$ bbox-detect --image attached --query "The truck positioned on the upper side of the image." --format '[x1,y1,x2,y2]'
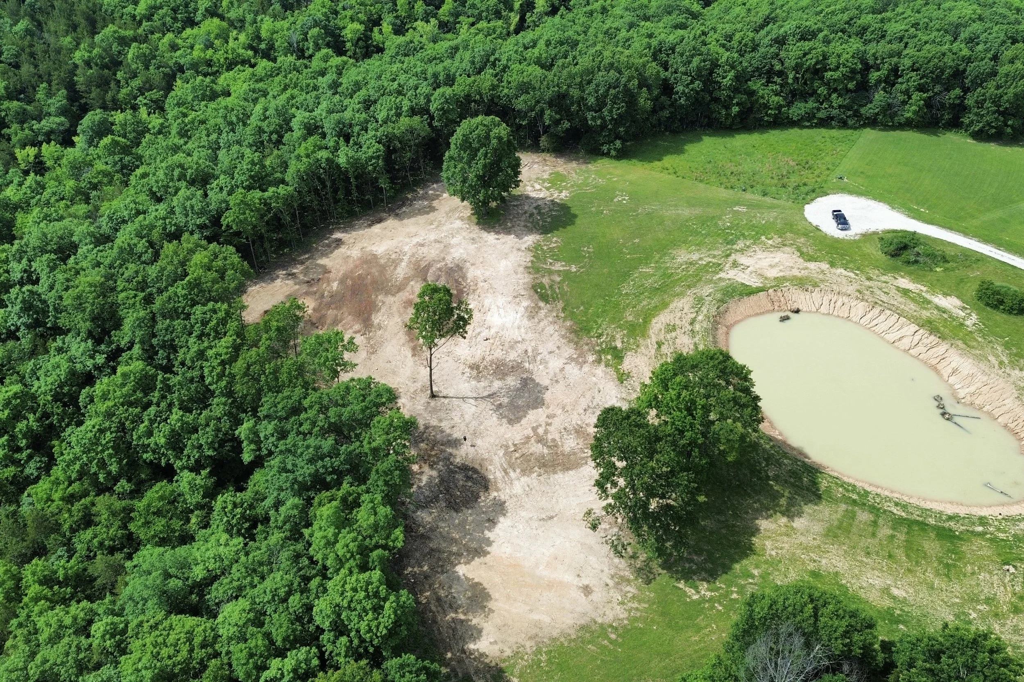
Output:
[832,206,853,227]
